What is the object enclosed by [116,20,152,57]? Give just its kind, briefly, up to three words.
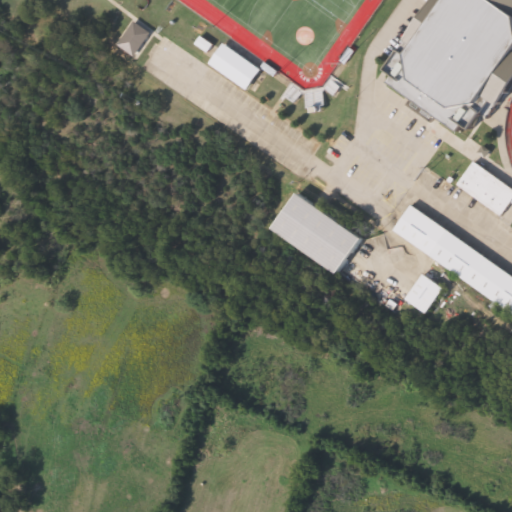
building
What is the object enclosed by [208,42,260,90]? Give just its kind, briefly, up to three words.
building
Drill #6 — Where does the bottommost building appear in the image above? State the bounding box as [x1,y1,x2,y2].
[405,274,442,314]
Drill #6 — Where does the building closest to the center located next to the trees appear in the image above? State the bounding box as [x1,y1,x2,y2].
[270,193,360,274]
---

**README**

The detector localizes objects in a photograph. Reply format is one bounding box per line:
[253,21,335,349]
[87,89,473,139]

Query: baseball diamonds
[180,0,384,89]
